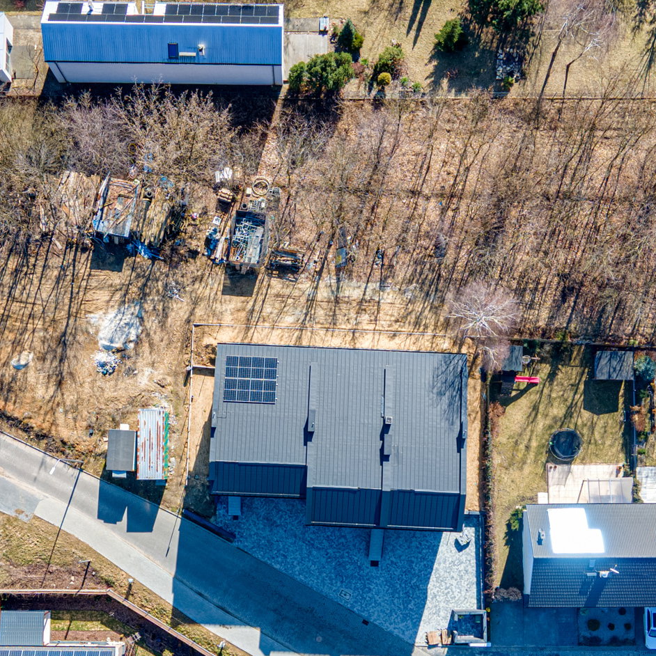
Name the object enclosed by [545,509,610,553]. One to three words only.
solar array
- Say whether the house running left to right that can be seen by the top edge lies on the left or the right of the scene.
left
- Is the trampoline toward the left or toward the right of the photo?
right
